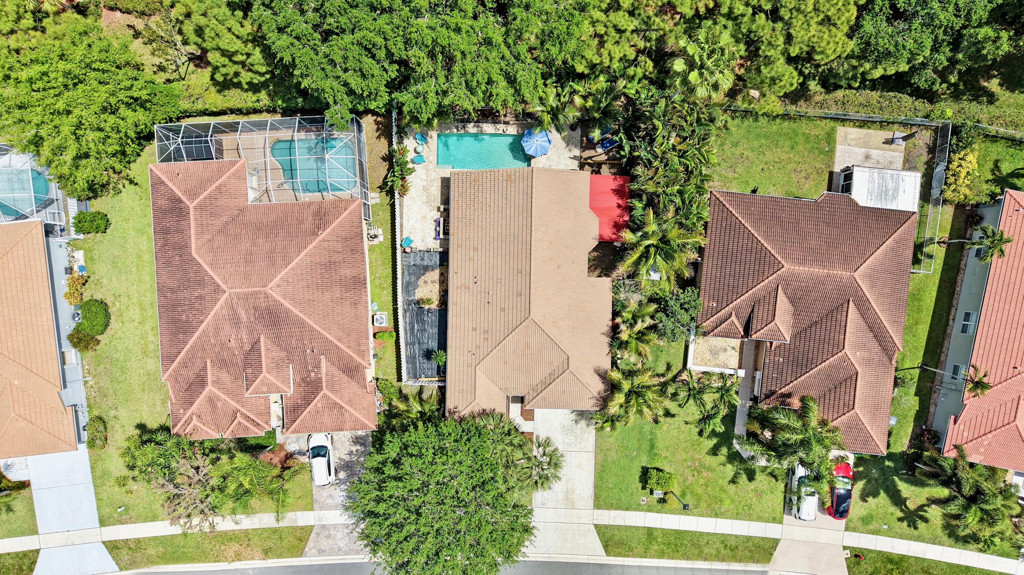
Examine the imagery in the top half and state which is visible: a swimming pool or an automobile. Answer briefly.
swimming pool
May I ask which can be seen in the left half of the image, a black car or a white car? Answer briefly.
white car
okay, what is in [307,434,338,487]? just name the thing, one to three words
car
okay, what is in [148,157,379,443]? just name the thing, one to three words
house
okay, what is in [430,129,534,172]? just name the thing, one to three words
swimming pool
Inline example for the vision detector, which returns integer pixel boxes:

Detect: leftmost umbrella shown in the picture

[521,127,551,157]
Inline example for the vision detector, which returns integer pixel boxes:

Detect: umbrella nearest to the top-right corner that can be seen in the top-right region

[893,131,919,146]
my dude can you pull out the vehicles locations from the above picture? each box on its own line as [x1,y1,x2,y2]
[823,459,856,517]
[307,434,338,487]
[791,461,824,521]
